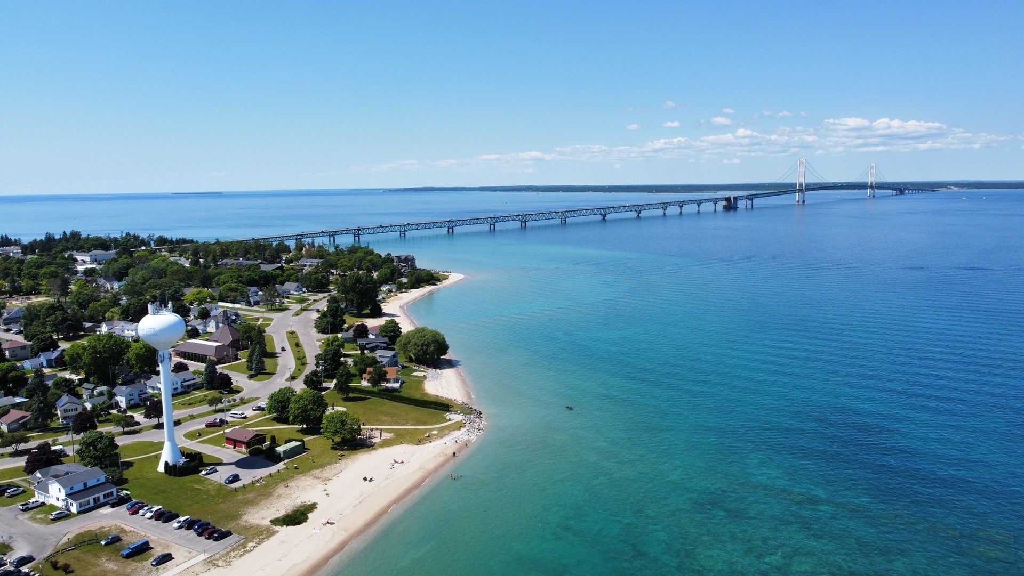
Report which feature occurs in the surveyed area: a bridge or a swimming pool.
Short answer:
bridge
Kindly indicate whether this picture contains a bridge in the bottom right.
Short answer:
No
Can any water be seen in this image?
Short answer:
Yes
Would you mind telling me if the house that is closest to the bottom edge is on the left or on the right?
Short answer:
left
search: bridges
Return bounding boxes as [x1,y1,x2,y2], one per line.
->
[129,158,950,251]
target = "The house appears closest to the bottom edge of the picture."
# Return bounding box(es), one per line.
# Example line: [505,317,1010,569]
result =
[33,459,136,514]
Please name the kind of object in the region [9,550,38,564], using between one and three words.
car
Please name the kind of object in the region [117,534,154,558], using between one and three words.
truck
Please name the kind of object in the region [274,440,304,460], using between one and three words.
shed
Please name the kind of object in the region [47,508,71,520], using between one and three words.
vehicle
